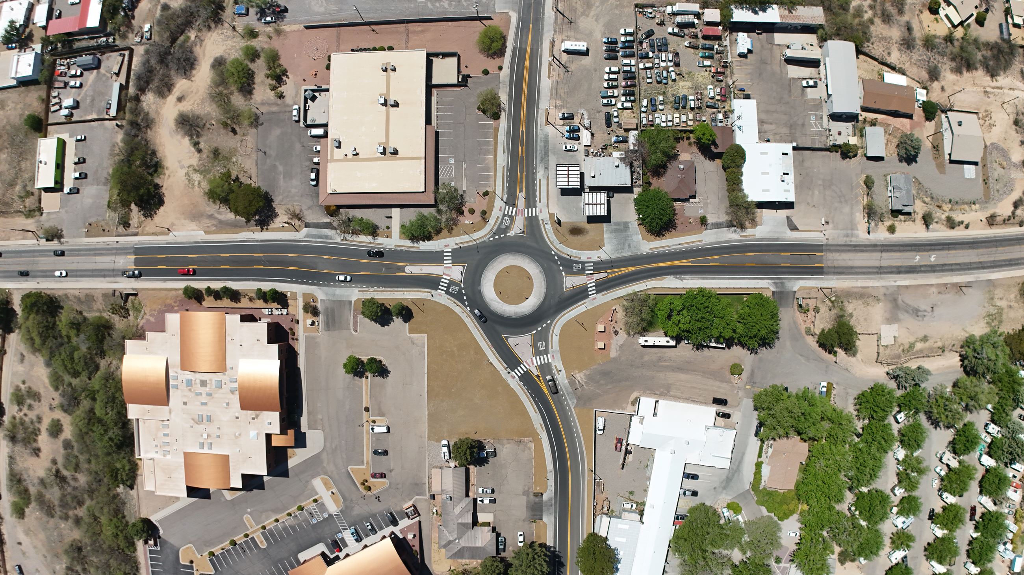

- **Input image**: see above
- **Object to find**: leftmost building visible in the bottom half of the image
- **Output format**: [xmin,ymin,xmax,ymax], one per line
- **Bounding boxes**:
[120,311,298,498]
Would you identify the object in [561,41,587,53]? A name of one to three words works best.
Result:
vehicle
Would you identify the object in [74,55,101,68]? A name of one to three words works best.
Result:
shed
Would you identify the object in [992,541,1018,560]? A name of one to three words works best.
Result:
vehicle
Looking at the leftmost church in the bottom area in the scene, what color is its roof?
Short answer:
white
